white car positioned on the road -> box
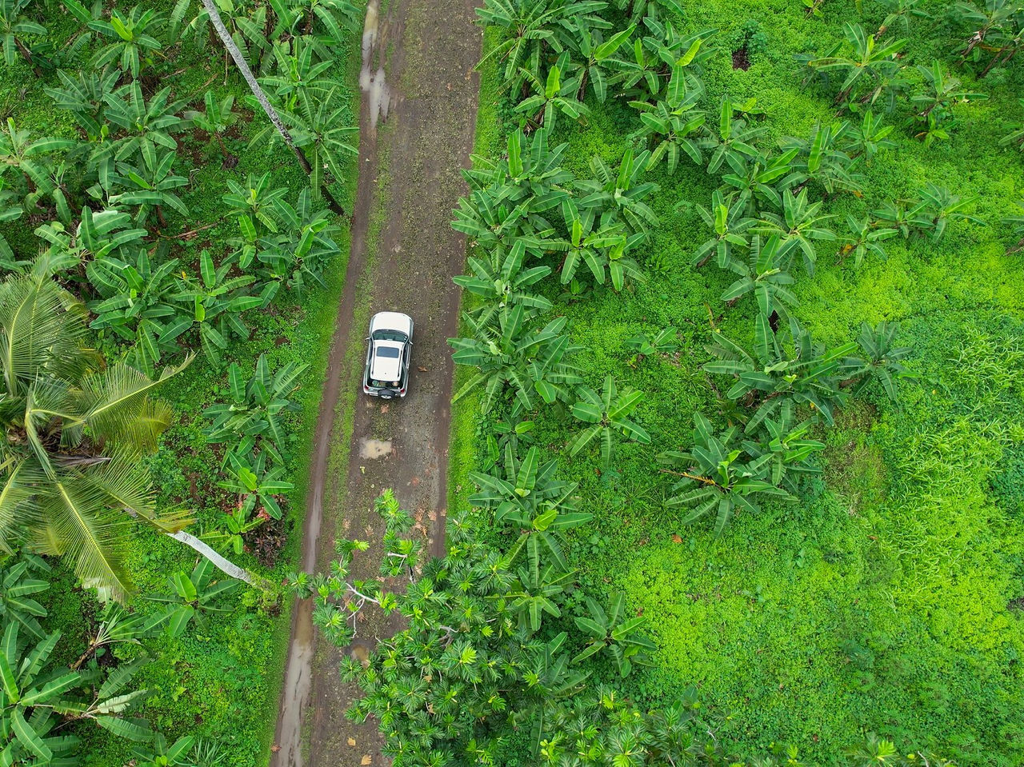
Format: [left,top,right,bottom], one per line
[360,311,416,402]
